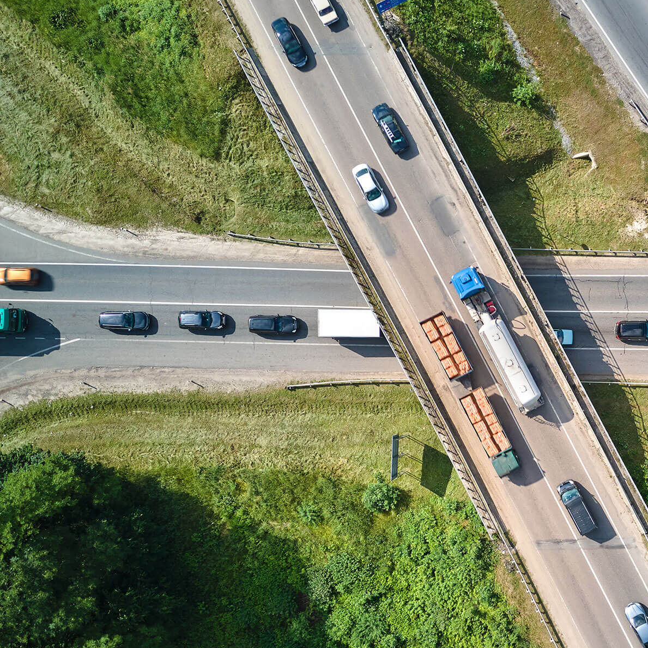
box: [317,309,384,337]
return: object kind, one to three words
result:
truck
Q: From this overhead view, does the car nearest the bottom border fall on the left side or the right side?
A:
right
